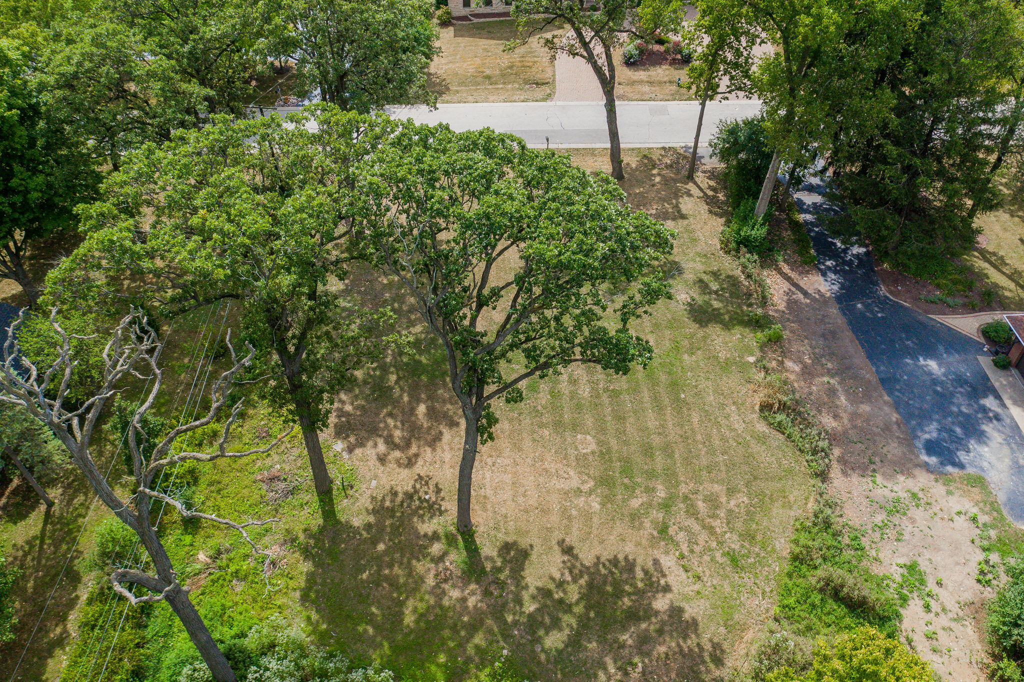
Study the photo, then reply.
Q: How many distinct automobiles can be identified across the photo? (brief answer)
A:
0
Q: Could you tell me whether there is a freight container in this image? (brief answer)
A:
No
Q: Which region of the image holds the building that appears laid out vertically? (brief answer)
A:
right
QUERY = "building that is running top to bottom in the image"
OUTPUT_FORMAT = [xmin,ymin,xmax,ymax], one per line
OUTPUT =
[994,309,1024,379]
